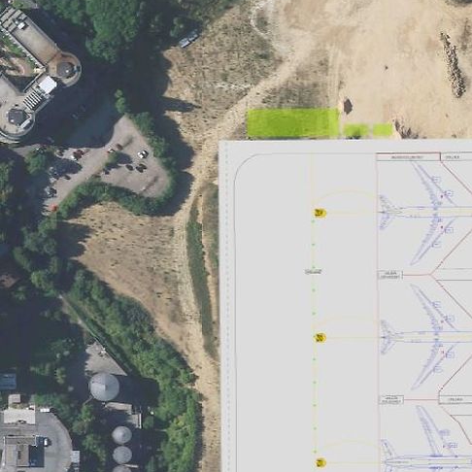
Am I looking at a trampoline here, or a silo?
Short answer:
silo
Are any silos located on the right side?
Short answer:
No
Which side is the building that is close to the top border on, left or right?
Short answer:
left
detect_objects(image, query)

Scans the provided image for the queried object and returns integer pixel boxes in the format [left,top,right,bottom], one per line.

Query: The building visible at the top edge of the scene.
[0,5,85,142]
